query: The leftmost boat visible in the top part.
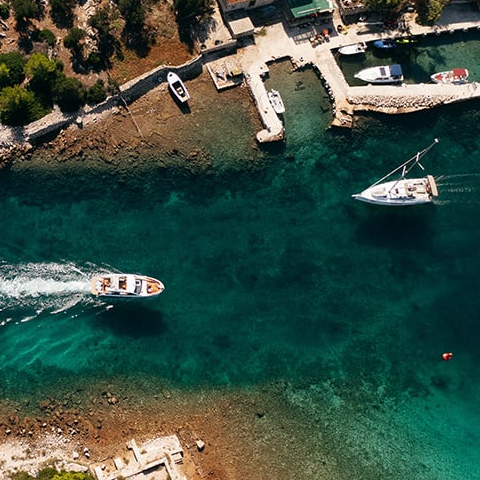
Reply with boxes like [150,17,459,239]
[170,72,190,103]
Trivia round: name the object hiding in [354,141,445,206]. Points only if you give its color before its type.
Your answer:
white boat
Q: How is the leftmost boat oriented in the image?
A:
from left to right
